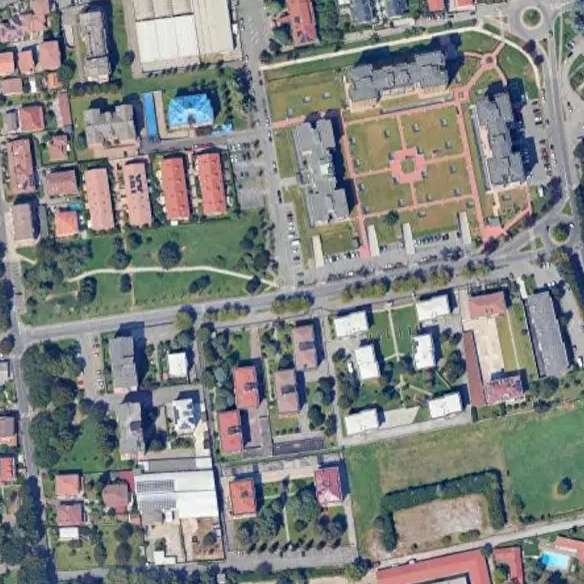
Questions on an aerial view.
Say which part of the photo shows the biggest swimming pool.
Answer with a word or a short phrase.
bottom right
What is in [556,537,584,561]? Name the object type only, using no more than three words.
building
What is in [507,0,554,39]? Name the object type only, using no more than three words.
roundabout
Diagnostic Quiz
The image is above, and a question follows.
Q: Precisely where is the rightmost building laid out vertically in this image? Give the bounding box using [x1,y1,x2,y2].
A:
[526,292,569,380]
